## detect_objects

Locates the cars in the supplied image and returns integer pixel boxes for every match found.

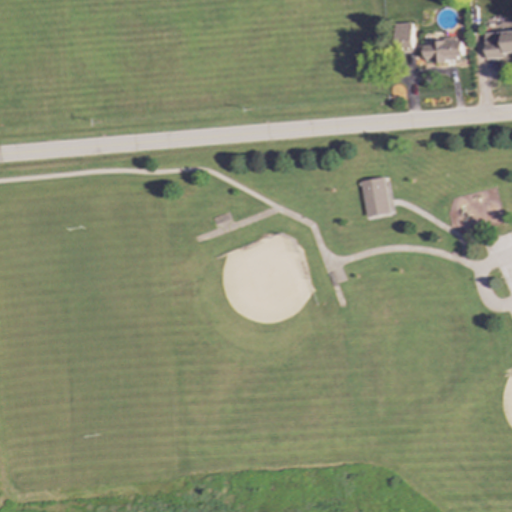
[413,84,418,96]
[454,70,460,83]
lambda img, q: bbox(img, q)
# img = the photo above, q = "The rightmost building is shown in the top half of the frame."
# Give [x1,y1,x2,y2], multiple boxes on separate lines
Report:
[484,32,512,60]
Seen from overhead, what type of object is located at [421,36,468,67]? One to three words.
house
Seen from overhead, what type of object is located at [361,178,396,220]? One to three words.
building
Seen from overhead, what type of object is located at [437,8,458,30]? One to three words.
swimming pool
